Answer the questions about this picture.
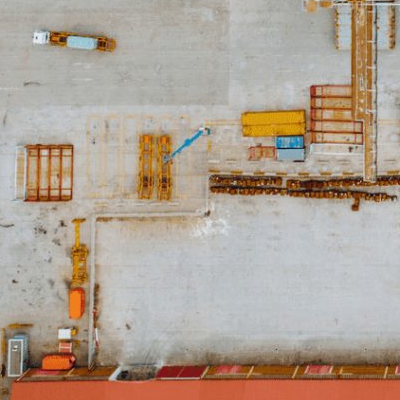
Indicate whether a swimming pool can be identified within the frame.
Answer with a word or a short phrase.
No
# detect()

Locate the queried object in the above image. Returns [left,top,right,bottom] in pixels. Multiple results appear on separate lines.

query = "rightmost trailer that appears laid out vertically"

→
[156,134,174,200]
